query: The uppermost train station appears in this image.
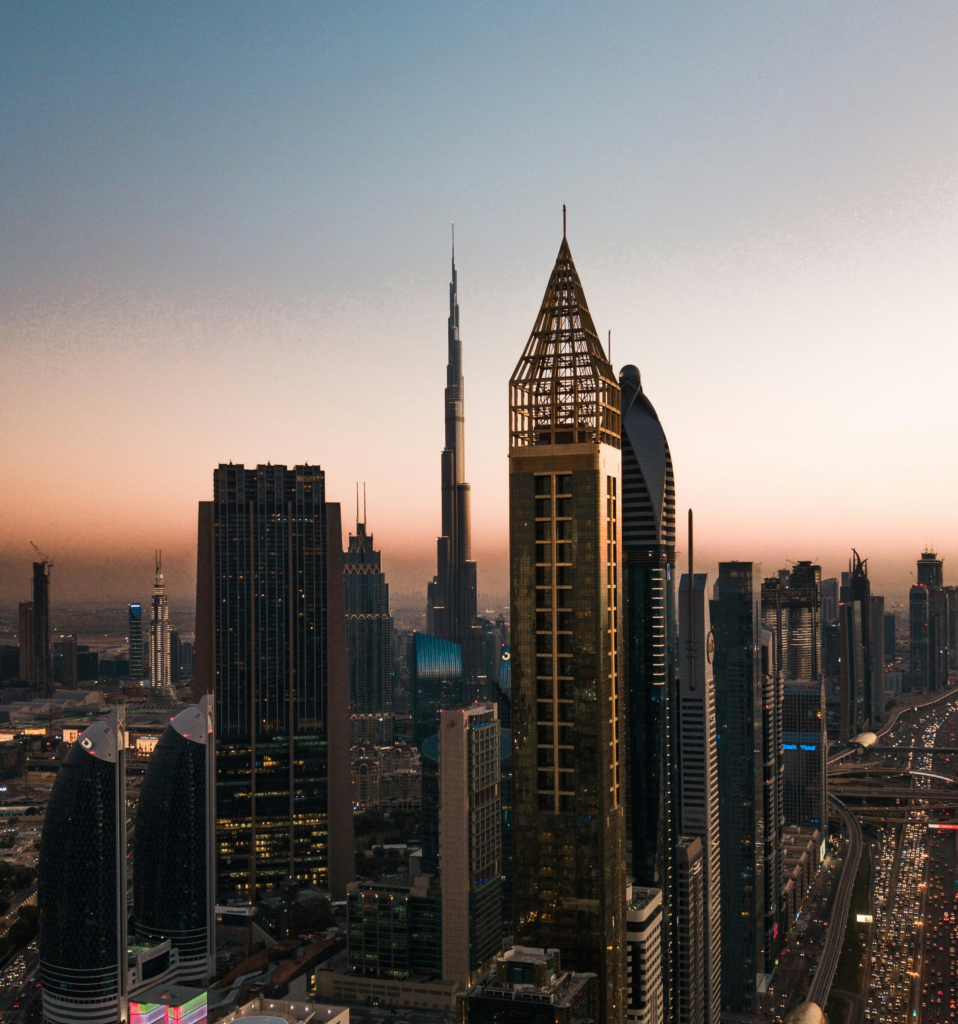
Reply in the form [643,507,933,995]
[844,725,886,752]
